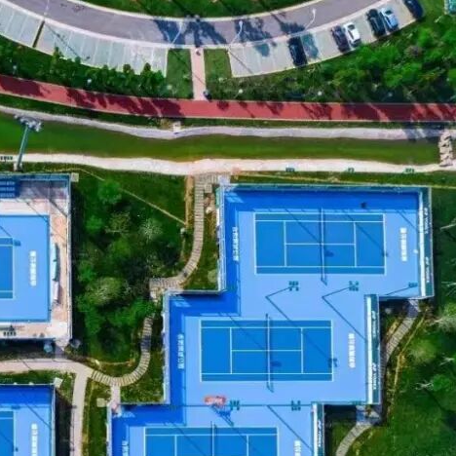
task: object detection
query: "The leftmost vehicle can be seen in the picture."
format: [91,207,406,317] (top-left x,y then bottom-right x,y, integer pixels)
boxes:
[290,38,306,65]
